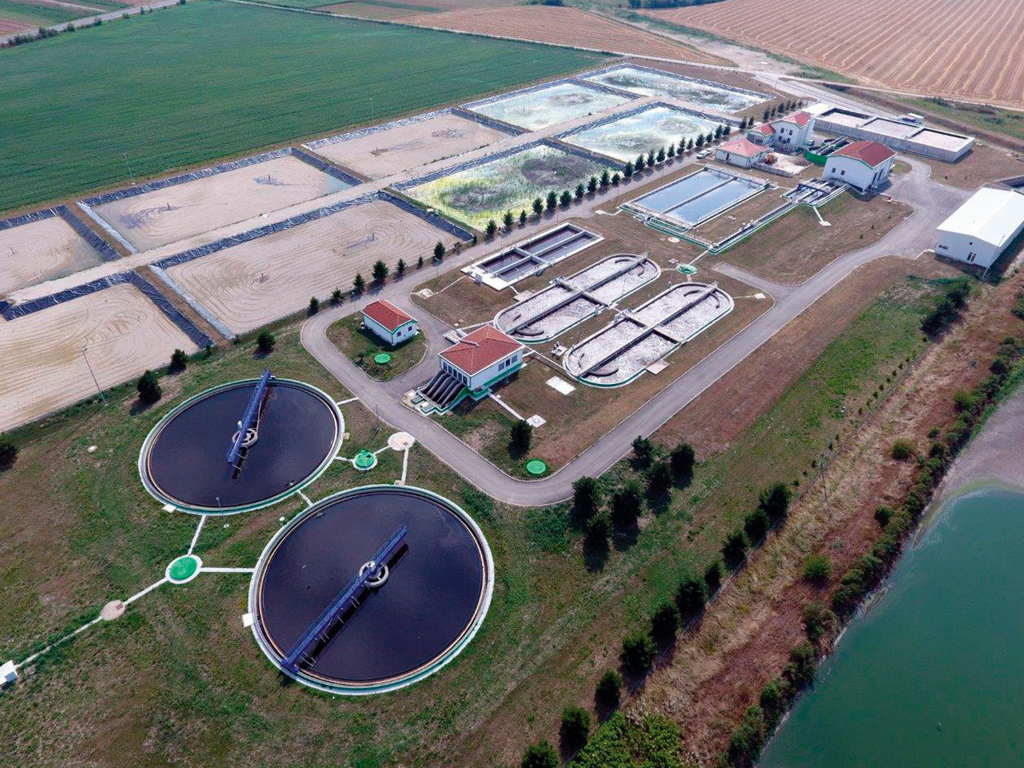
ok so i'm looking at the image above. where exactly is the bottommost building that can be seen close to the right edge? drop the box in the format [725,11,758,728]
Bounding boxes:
[933,188,1024,269]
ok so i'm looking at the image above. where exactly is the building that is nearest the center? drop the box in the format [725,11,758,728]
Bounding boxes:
[398,322,528,419]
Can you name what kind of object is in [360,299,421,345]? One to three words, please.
house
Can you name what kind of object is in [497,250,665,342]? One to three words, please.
storage tank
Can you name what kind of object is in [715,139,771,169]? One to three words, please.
house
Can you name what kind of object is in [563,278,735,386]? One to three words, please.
storage tank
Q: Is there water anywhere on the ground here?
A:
Yes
